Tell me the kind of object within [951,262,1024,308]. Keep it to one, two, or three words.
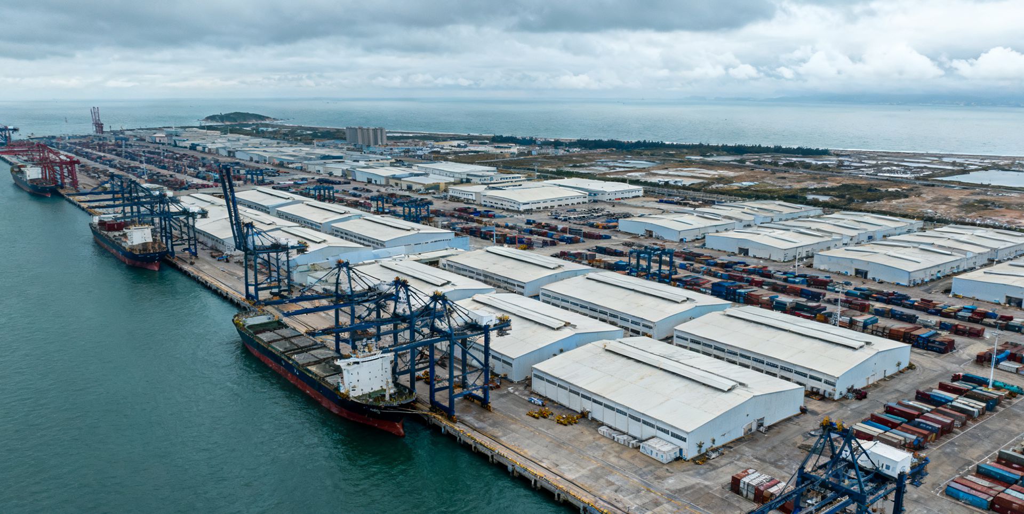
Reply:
building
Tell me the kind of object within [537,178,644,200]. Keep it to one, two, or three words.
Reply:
building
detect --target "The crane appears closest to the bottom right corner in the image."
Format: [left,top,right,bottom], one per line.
[749,418,924,514]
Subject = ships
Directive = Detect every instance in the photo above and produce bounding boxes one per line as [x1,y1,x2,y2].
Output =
[235,306,426,436]
[11,164,54,194]
[86,217,170,270]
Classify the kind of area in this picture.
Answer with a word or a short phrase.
port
